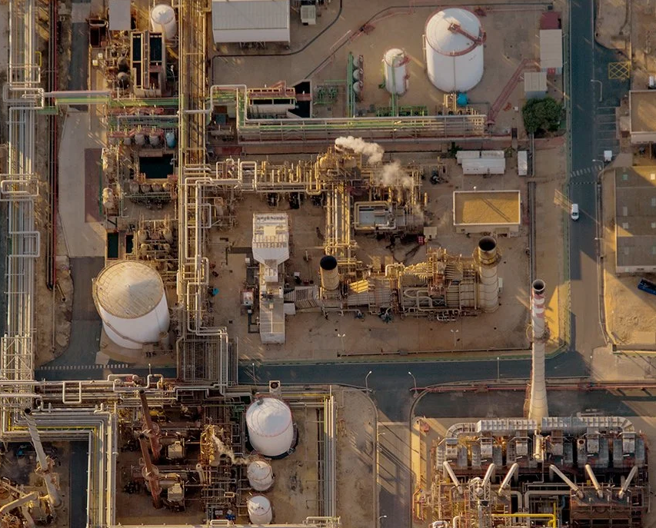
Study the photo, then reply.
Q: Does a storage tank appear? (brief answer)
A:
Yes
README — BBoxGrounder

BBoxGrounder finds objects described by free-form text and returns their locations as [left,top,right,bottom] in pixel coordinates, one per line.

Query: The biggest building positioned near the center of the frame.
[252,212,292,341]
